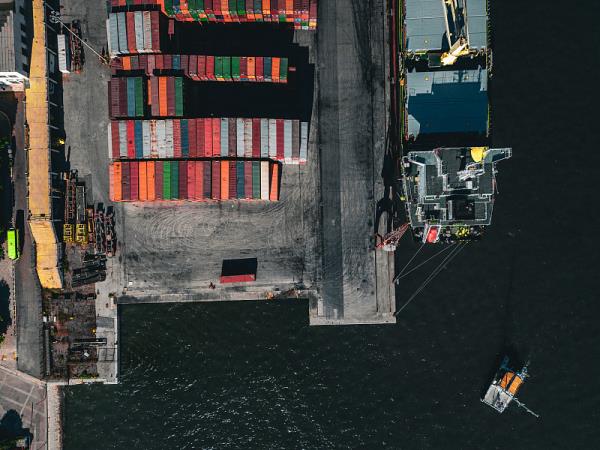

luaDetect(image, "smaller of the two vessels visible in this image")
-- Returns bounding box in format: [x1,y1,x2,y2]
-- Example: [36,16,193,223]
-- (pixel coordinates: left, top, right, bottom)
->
[481,362,541,420]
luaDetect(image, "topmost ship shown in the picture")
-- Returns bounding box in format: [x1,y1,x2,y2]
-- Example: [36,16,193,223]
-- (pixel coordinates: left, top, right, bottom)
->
[391,0,514,244]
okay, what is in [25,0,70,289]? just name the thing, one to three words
building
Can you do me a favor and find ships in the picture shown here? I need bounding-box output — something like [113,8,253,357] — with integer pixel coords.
[481,362,541,420]
[391,0,514,244]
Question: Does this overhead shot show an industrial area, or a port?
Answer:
port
